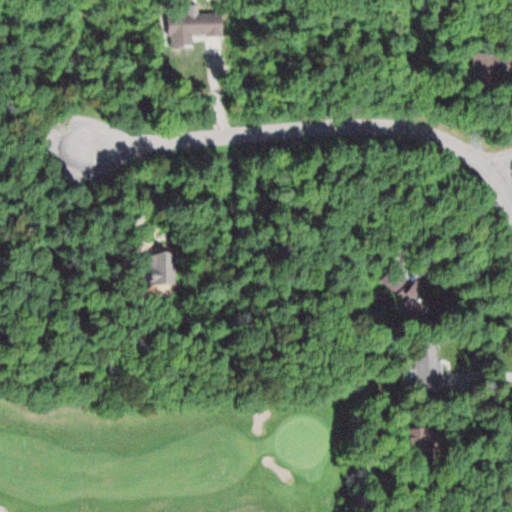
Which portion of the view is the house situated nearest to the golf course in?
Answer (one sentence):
The house situated nearest to the golf course appears toward the bottom right of the photo.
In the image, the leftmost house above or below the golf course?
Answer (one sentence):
The leftmost house is located above the golf course in this view.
